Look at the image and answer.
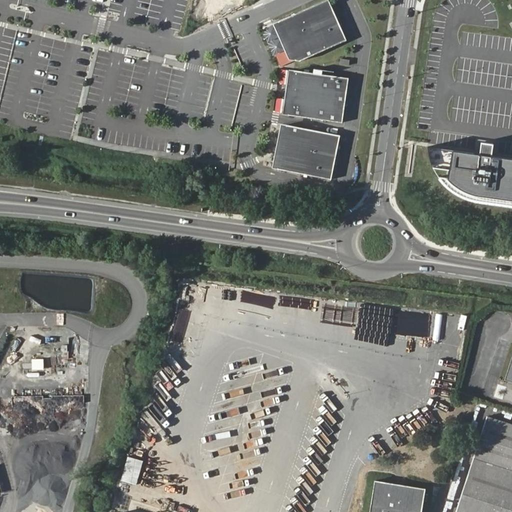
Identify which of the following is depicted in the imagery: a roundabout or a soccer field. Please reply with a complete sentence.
The one in the frame is a roundabout.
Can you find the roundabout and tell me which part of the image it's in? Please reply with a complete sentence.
The roundabout is in the right part of the image.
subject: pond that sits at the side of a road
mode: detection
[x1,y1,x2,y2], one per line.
[20,272,94,314]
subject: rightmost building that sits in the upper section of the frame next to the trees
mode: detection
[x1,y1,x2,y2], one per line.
[427,143,512,207]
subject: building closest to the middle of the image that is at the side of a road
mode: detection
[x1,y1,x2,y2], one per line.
[272,124,340,180]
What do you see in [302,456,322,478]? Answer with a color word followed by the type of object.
white vehicle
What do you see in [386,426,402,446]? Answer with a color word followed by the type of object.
gray vehicle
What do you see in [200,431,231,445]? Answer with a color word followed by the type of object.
white vehicle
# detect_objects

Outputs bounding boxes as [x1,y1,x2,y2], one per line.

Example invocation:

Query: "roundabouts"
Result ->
[339,206,413,280]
